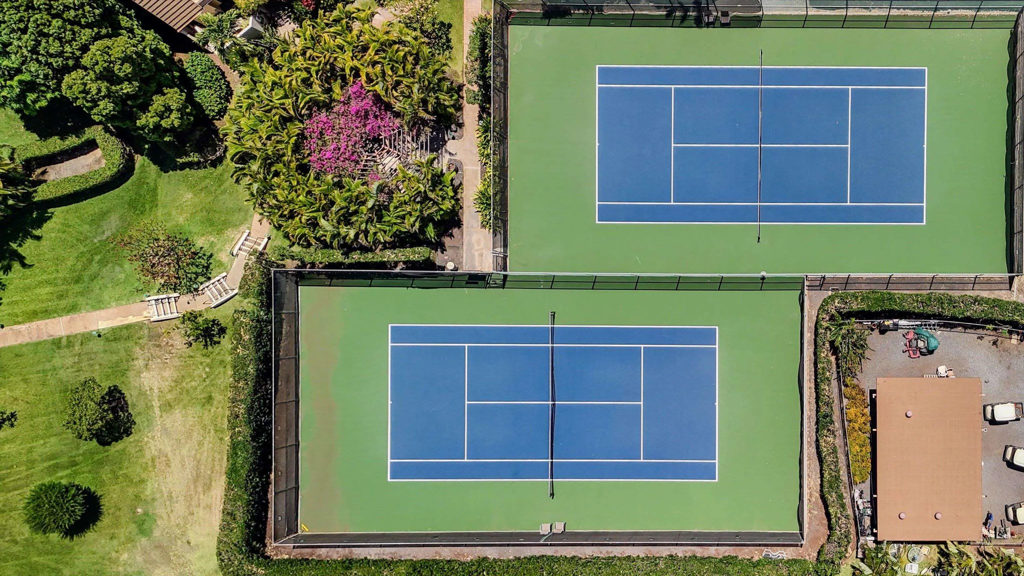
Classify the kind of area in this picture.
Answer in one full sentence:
It's a sports ground.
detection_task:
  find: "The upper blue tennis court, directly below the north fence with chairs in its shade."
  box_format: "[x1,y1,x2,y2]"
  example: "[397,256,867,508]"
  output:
[509,14,1014,273]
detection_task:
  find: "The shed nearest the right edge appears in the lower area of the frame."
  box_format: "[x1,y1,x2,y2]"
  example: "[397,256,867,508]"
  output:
[872,377,987,541]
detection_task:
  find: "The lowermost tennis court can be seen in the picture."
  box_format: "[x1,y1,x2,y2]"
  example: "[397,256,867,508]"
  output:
[300,276,802,532]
